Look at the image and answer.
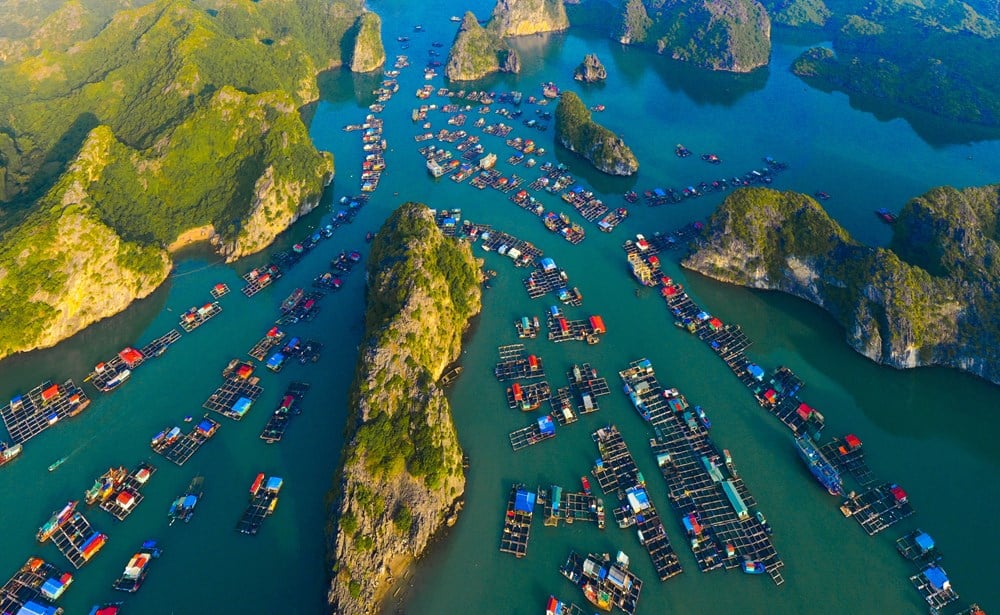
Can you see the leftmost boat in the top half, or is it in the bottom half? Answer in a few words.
bottom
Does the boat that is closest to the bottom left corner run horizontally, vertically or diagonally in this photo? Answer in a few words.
diagonally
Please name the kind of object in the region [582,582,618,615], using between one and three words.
boat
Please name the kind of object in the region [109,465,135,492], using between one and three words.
boat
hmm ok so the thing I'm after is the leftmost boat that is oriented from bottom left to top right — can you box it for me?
[0,438,26,468]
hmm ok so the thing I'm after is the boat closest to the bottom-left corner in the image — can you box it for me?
[29,497,81,541]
